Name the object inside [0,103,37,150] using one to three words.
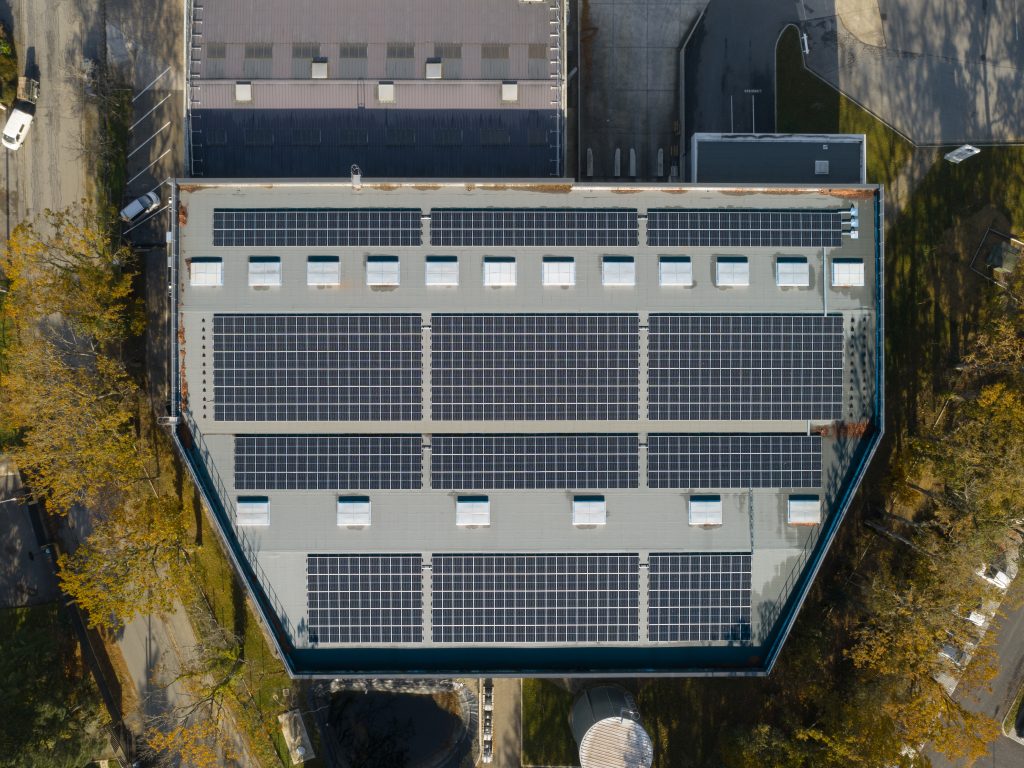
van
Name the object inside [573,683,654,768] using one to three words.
storage tank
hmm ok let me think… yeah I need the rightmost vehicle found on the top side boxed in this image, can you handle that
[119,192,161,223]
